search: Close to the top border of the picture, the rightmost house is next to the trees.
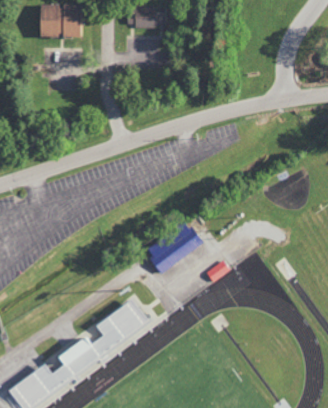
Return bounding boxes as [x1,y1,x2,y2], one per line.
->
[128,4,157,30]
